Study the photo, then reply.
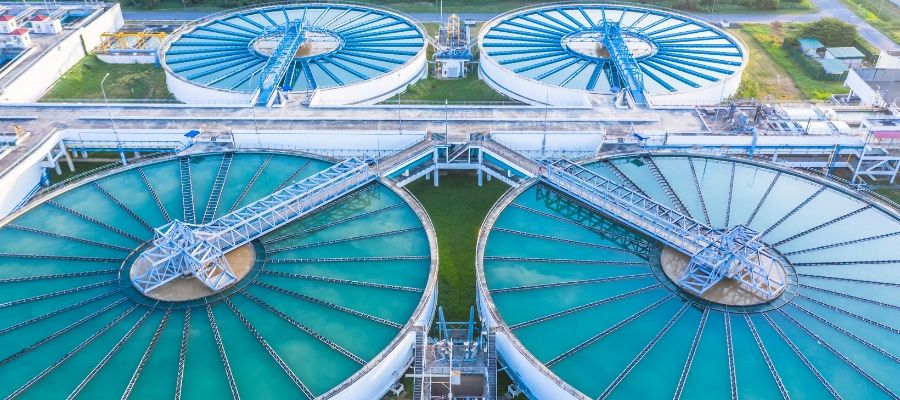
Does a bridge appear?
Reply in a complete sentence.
Yes, a bridge is visible in the scene.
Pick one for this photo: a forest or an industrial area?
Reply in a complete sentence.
It's an industrial area.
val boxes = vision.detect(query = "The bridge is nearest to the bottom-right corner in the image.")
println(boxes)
[530,156,724,260]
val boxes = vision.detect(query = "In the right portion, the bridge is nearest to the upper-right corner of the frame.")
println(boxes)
[599,16,667,102]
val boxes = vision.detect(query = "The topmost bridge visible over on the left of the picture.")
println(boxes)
[238,14,309,99]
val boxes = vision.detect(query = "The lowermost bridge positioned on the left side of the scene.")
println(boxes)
[193,155,387,258]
